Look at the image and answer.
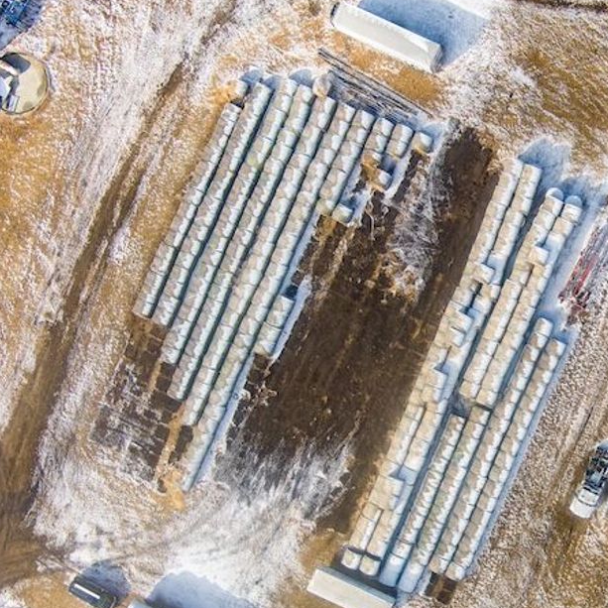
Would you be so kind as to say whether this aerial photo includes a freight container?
Yes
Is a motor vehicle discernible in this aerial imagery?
Yes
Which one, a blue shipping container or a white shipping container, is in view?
white shipping container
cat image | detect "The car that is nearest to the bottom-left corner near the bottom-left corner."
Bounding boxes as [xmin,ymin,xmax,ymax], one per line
[68,573,121,608]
